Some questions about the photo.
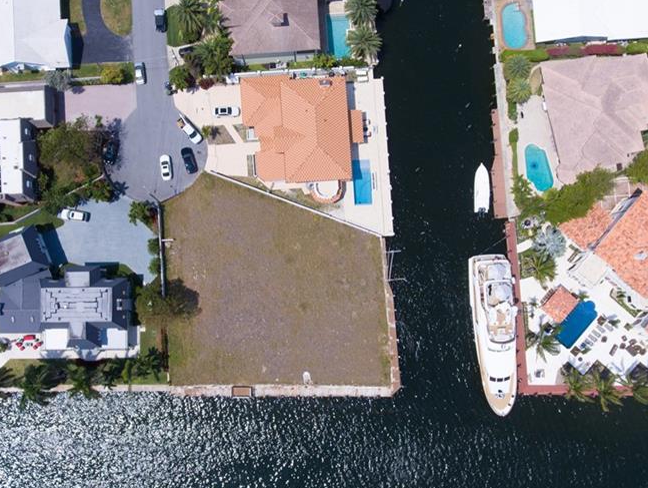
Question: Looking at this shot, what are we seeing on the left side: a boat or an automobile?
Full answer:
Visible on the left side is an automobile.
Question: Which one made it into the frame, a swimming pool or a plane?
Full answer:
This aerial view contains a swimming pool.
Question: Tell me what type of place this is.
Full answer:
It's a residential area.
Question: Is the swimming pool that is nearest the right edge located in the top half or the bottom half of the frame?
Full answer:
The swimming pool that is nearest the right edge sits in the bottom half of the picture.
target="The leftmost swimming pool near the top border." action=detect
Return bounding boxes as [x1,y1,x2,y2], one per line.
[326,13,352,60]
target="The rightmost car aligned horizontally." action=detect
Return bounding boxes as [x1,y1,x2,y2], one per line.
[215,105,240,117]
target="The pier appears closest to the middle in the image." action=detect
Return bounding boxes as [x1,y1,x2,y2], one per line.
[371,78,393,235]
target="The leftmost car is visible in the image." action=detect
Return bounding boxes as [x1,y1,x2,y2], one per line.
[61,208,89,220]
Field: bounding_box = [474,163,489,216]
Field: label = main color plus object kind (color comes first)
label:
white boat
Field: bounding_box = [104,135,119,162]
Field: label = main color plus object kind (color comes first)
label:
black car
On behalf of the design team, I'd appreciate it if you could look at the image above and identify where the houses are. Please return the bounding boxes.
[531,0,648,46]
[0,225,143,352]
[0,85,53,199]
[538,53,648,183]
[0,0,75,71]
[557,189,648,332]
[224,0,321,58]
[240,76,364,183]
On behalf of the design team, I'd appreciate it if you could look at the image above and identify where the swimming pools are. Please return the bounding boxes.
[500,1,528,48]
[351,159,373,206]
[555,299,600,350]
[326,13,352,60]
[524,143,554,189]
